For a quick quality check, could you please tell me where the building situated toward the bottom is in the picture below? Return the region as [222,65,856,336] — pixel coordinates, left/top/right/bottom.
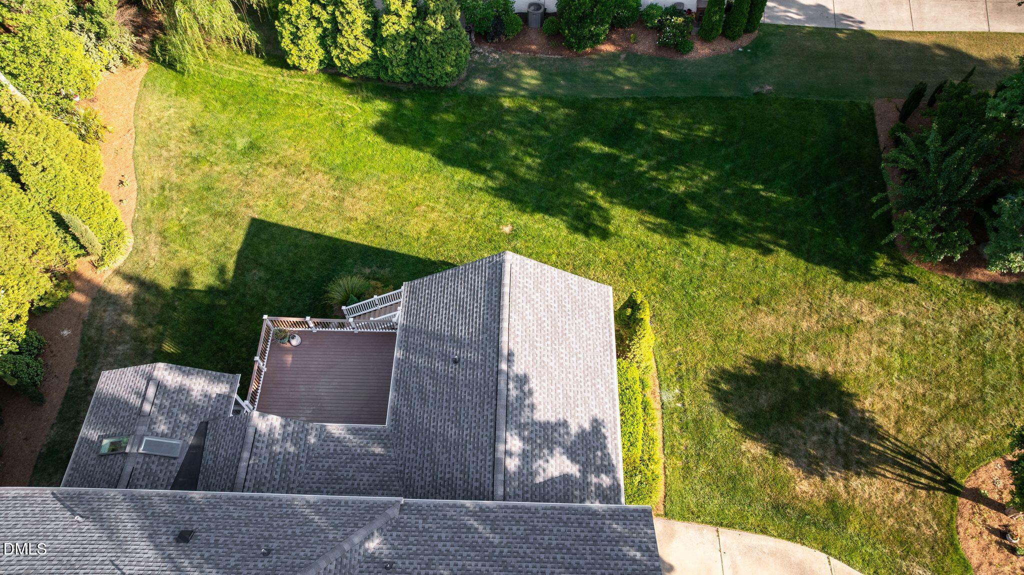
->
[0,252,665,575]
